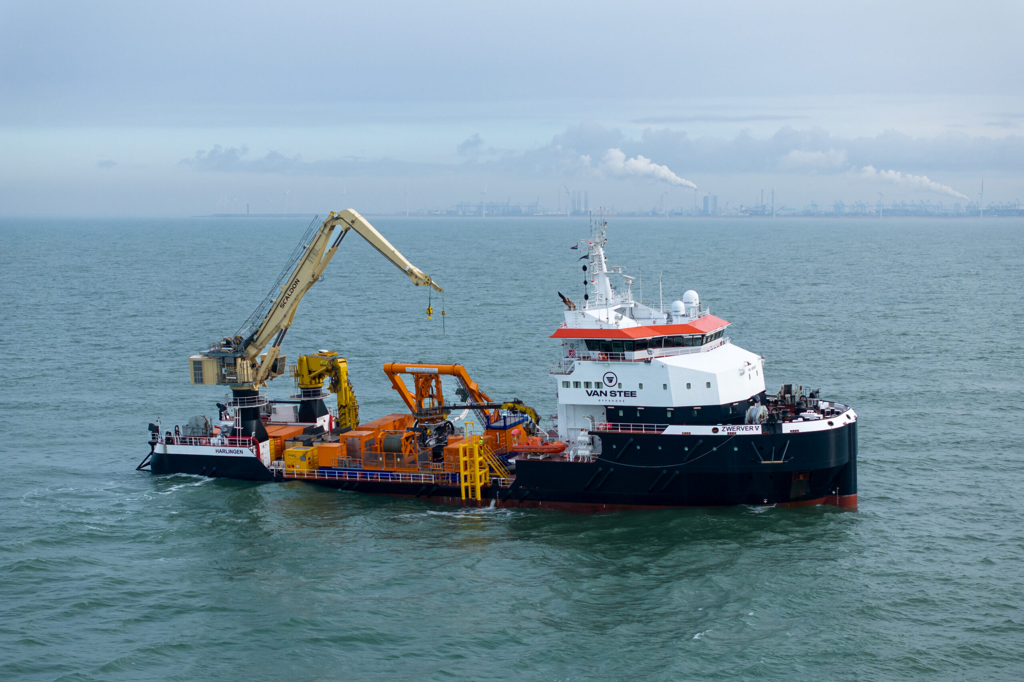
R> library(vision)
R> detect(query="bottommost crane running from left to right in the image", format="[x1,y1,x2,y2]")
[443,397,543,440]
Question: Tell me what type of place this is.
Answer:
port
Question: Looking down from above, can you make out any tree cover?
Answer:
No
